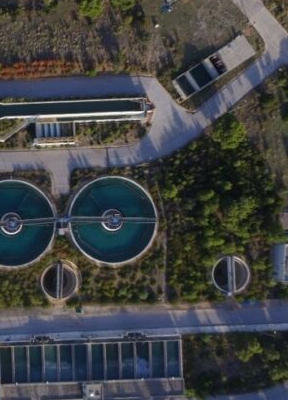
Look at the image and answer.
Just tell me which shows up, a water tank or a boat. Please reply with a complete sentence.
This aerial view contains a water tank.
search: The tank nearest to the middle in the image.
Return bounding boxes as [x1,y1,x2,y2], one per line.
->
[65,174,158,267]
